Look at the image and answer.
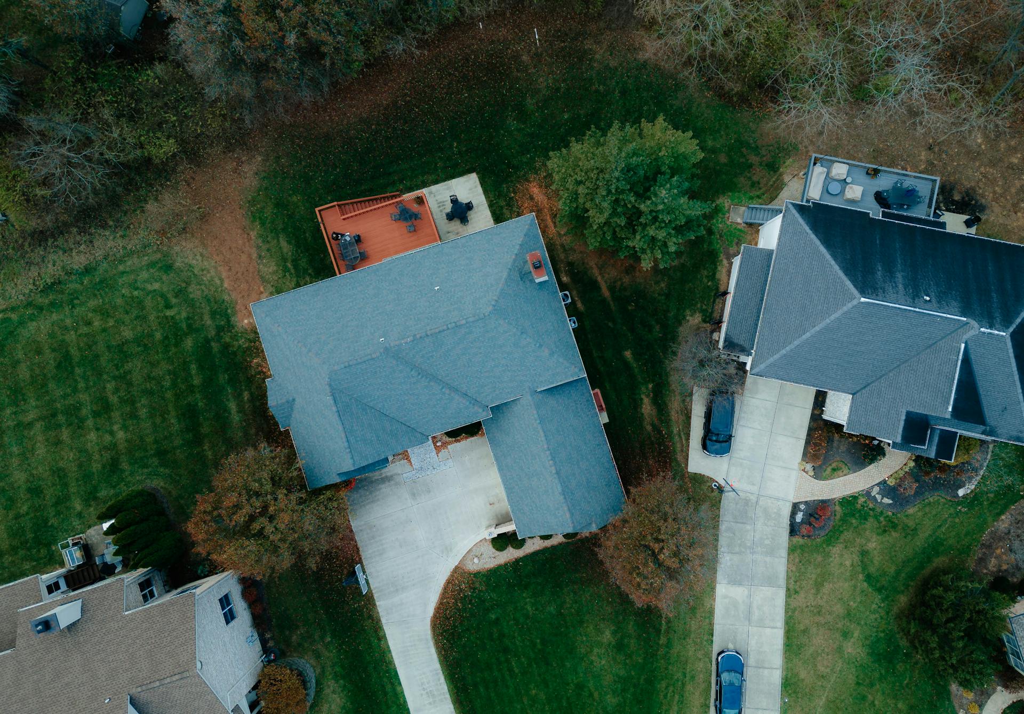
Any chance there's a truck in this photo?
No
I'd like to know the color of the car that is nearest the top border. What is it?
blue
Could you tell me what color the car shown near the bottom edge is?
blue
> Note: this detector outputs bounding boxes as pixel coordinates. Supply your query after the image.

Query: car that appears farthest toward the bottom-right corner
[711,653,746,714]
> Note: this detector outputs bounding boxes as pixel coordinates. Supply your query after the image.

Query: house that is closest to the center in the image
[248,211,629,540]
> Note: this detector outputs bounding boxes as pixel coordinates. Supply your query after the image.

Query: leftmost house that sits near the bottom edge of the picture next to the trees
[0,565,272,714]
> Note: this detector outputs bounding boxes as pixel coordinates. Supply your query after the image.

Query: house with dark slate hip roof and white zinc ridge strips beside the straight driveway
[711,198,1024,463]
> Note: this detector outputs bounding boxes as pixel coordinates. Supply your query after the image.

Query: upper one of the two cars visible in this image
[699,387,737,462]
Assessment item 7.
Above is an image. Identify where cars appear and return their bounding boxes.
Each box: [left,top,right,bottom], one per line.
[699,387,737,462]
[711,653,746,714]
